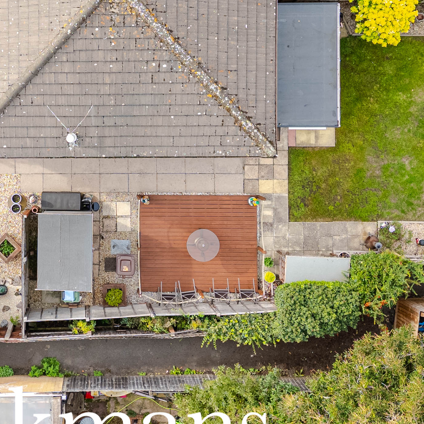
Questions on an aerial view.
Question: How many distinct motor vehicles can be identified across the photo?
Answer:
0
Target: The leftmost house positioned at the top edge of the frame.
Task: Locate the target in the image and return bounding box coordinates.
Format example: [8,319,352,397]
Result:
[0,0,285,160]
